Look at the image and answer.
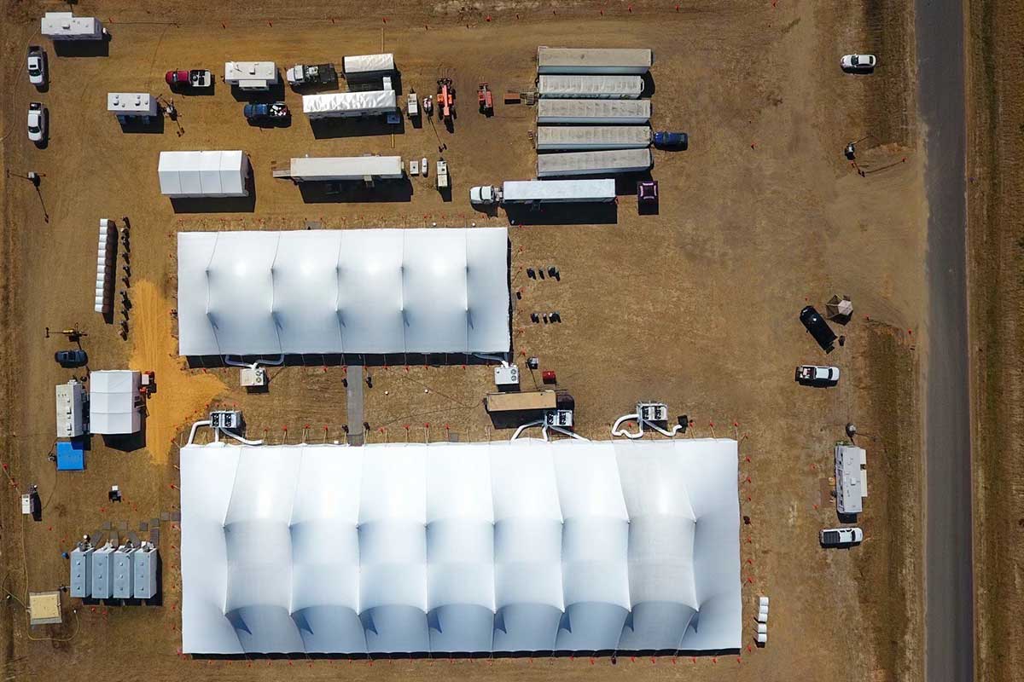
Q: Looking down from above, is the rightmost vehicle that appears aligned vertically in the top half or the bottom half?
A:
bottom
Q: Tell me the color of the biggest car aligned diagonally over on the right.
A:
black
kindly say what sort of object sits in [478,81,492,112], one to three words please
work vehicle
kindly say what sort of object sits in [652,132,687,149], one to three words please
car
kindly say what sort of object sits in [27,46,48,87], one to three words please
truck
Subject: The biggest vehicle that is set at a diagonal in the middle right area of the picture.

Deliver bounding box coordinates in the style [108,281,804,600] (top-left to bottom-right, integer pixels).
[797,307,835,351]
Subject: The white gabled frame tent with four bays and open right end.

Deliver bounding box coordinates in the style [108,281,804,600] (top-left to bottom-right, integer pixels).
[158,151,248,197]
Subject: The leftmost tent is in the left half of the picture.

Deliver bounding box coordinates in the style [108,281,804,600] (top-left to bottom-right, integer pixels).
[90,371,140,434]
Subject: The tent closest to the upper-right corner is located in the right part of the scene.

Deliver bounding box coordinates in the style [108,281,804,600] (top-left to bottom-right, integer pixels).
[822,293,848,321]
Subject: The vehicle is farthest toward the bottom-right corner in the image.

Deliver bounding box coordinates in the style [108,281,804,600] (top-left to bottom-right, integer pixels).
[818,527,861,545]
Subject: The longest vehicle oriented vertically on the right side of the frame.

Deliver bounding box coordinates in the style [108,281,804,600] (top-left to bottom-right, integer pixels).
[832,437,867,512]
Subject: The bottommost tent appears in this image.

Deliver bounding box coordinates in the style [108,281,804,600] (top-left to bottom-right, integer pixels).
[173,425,746,663]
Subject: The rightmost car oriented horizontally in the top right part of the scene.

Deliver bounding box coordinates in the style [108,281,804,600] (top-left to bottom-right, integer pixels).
[839,54,874,71]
